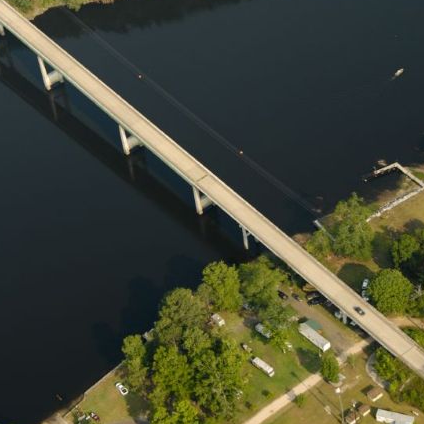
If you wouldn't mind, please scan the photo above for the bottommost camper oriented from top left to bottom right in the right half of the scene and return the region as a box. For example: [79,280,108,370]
[251,357,274,380]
